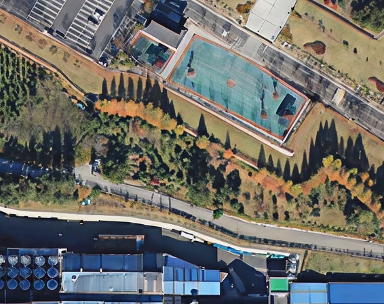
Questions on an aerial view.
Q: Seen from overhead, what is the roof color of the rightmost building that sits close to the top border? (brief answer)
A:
white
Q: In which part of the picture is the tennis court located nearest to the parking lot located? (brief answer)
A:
top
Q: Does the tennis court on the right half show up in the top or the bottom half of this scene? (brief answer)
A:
top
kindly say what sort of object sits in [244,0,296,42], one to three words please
building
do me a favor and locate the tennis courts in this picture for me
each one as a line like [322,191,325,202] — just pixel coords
[131,32,174,72]
[168,35,310,141]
